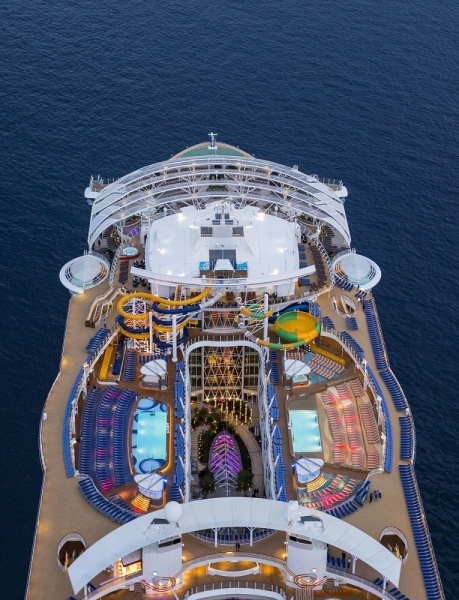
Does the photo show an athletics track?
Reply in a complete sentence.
No, no athletics track can be seen from above.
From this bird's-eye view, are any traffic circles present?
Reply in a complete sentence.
No, I can see no traffic circle in this picture.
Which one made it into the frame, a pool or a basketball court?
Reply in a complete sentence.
This aerial view contains a pool.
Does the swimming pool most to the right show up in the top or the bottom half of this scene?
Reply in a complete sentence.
The bottom half of the photo is where the swimming pool most to the right is.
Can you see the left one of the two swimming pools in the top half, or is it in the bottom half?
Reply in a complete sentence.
It is in the bottom half that the left one of the two swimming pools appears.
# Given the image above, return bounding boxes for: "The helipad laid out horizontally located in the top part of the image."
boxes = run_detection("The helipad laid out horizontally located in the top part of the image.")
[158,145,261,172]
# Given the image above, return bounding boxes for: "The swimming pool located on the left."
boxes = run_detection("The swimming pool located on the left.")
[128,395,173,474]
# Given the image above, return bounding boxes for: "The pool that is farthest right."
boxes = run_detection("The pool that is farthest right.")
[282,390,327,460]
